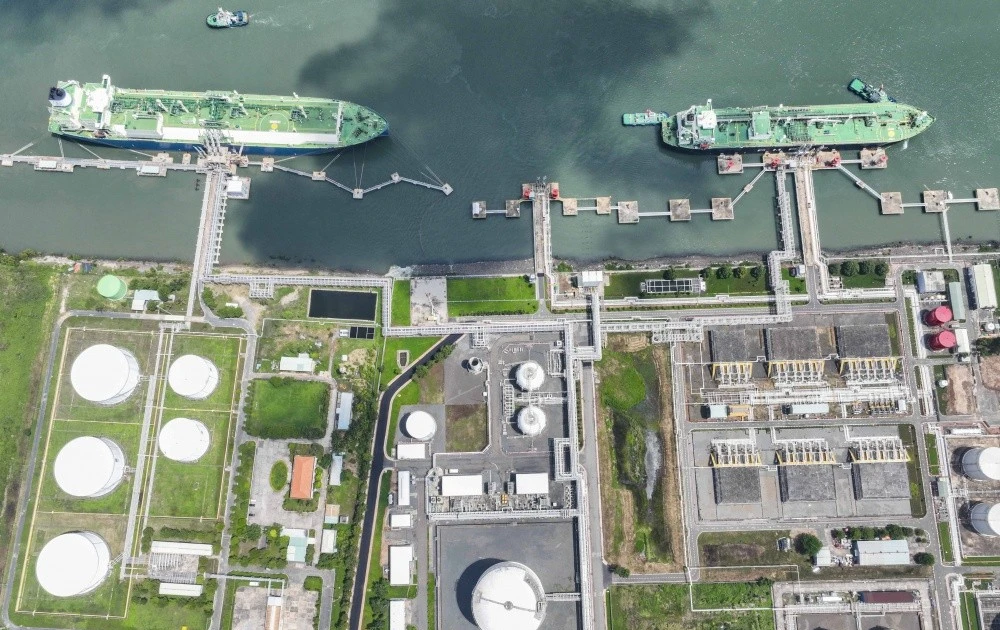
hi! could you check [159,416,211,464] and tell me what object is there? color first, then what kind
white storage tank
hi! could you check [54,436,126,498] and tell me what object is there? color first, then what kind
white storage tank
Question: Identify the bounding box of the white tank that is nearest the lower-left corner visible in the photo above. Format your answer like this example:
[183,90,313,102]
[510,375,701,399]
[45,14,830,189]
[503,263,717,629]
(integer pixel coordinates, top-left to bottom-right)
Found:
[35,528,111,598]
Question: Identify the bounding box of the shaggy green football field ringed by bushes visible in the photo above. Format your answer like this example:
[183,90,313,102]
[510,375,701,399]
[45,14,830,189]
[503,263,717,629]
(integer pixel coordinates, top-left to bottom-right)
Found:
[247,379,329,438]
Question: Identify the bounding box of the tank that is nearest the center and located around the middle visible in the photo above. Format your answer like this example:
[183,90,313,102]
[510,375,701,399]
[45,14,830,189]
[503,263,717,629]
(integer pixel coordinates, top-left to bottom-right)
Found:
[516,361,545,393]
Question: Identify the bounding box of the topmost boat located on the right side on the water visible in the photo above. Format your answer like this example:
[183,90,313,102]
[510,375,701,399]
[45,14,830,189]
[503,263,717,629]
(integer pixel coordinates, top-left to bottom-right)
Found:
[846,78,897,101]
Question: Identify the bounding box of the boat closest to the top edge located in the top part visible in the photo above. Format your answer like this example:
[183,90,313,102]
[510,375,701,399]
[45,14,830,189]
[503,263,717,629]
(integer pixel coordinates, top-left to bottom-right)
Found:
[206,10,250,29]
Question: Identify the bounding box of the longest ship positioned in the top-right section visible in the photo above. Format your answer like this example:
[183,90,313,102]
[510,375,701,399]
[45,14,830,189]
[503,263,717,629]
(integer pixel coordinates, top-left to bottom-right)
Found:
[660,99,936,154]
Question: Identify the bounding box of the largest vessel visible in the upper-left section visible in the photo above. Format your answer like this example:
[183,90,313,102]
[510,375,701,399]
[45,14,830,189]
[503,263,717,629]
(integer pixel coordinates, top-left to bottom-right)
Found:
[45,75,388,160]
